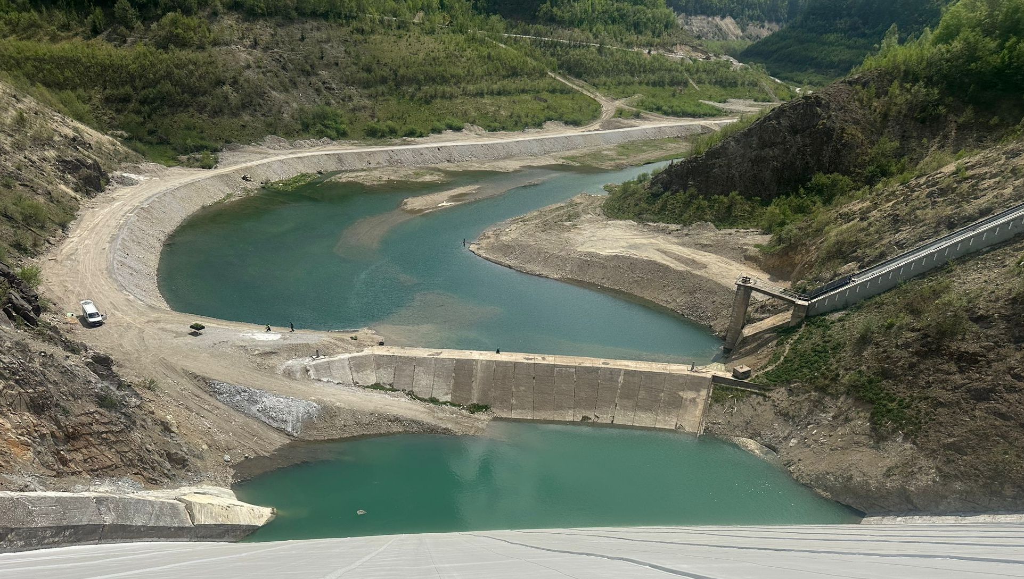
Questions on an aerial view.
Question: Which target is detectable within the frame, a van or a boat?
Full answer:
The one in the frame is a van.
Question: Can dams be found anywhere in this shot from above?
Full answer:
Yes, I can see a dam in this picture.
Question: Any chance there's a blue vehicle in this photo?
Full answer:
No, I can't see a single blue vehicle in this photo.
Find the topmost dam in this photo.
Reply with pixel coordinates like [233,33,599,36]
[311,346,713,435]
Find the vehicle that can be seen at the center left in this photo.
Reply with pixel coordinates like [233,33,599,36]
[77,298,108,327]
